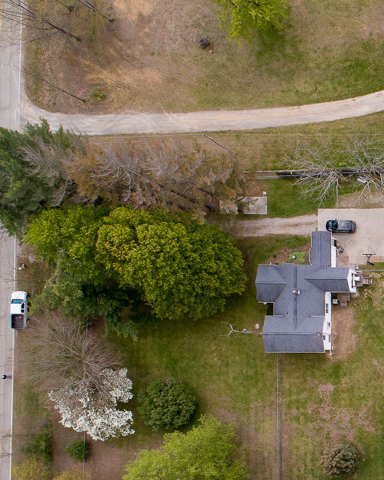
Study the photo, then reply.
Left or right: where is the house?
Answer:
right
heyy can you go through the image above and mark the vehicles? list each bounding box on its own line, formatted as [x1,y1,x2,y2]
[324,217,356,233]
[3,291,26,329]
